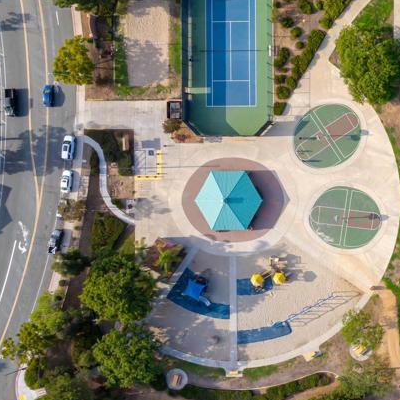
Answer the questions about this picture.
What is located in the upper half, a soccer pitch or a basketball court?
basketball court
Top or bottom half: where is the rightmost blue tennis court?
top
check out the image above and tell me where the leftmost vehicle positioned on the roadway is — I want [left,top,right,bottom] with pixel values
[3,89,18,115]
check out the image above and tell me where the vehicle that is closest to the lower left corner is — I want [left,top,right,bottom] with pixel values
[47,229,65,256]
